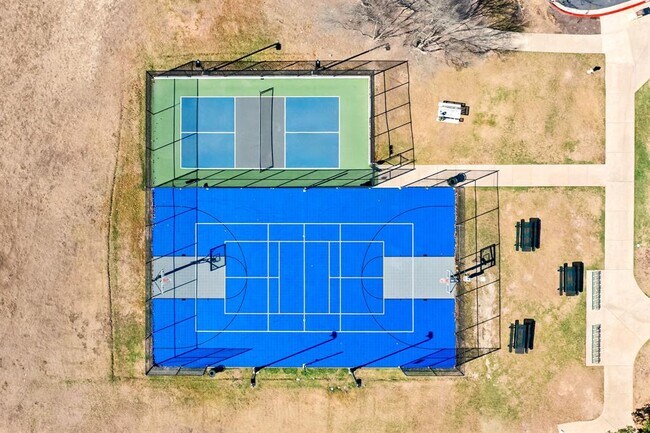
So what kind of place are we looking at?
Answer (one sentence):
This image shows a sports ground.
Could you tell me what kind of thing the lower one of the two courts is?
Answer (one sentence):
I'd say the lower one of the two courts is a basketball court.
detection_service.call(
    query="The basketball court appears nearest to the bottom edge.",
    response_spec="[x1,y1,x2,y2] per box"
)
[152,188,458,368]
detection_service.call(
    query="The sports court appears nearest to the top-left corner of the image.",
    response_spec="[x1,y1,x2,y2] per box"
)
[152,76,372,187]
